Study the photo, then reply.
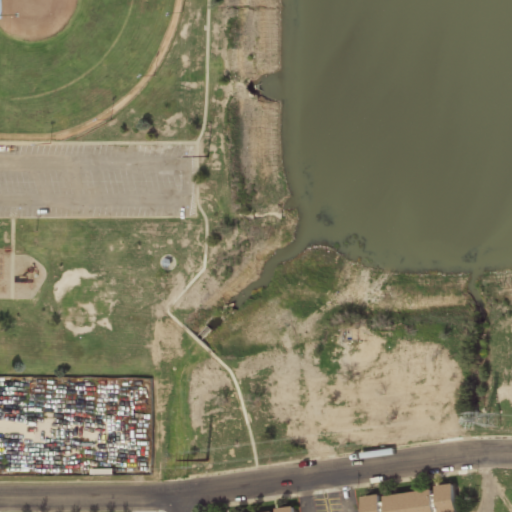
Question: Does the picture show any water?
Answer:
Yes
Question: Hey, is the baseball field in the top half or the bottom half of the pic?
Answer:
top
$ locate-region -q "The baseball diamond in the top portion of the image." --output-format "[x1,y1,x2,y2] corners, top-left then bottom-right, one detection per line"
[0,0,184,140]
